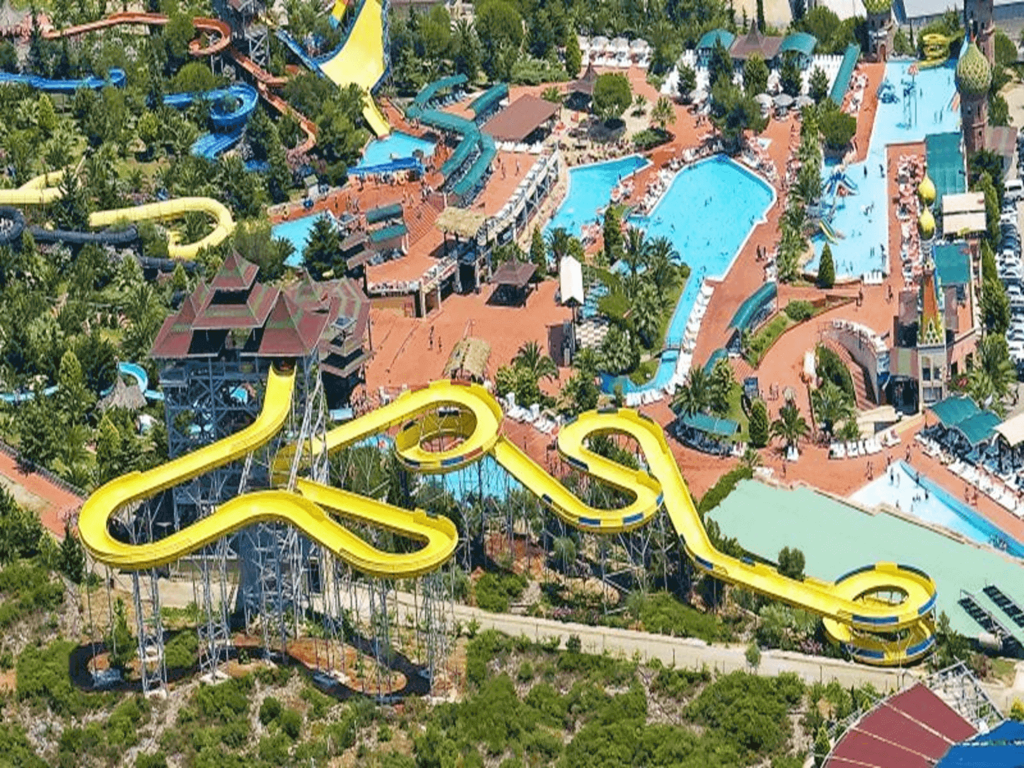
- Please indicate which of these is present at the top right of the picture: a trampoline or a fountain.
fountain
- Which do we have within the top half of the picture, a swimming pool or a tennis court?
swimming pool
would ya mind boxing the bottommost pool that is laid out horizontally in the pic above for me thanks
[435,457,530,504]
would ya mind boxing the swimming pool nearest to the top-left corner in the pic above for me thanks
[273,211,337,264]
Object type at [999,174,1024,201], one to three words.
vehicle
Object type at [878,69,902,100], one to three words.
fountain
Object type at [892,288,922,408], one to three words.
building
